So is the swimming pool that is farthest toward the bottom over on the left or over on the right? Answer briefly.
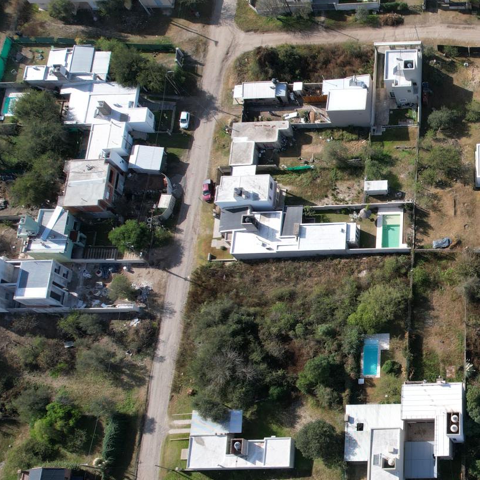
right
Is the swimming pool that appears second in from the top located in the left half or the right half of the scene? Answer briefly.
right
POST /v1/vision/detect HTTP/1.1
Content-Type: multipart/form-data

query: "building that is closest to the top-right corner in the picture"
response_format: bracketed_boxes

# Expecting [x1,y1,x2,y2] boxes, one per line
[385,50,420,104]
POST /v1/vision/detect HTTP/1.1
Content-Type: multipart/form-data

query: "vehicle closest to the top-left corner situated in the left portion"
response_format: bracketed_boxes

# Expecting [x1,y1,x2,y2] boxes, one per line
[178,111,191,131]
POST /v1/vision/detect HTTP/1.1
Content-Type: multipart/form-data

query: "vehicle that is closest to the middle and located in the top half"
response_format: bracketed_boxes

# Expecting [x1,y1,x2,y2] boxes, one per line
[201,181,215,202]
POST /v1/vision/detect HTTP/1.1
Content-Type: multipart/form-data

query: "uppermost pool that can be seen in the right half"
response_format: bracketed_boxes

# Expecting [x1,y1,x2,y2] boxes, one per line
[376,207,404,248]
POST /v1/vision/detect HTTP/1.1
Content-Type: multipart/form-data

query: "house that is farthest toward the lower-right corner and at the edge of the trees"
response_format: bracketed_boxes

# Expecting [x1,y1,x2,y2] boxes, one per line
[344,382,466,480]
